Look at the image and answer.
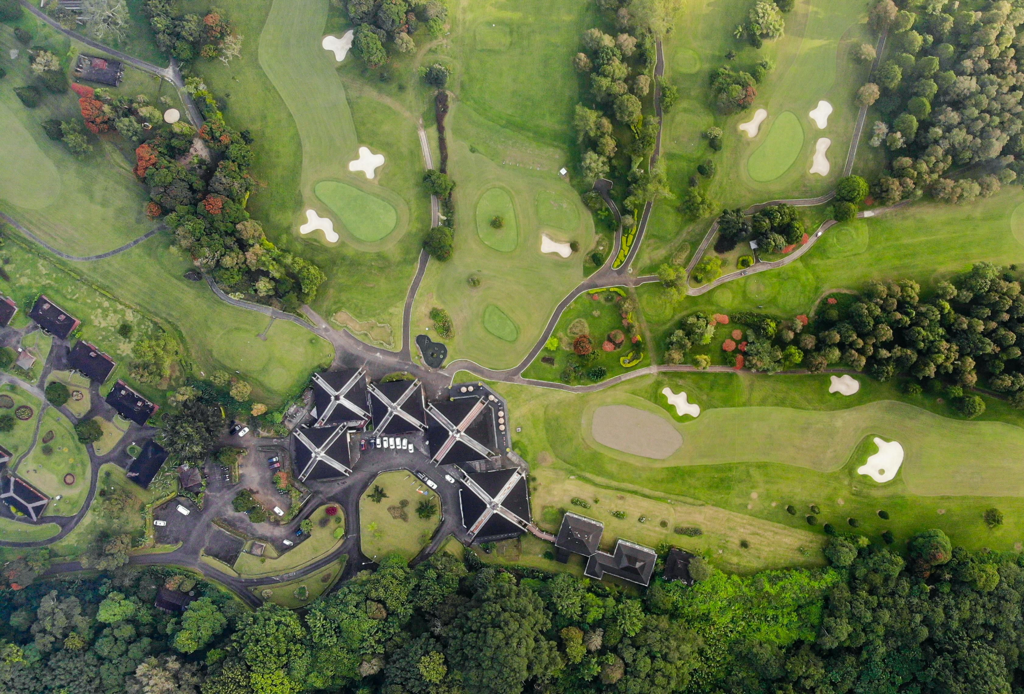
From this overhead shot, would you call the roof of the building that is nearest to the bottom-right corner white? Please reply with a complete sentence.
No, the roof of the building that is nearest to the bottom-right corner is actually black.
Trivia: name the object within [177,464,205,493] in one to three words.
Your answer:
shed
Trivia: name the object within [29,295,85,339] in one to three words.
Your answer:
house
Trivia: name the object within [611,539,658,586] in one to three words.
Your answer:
building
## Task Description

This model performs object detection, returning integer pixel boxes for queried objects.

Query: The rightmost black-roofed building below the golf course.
[663,548,696,585]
